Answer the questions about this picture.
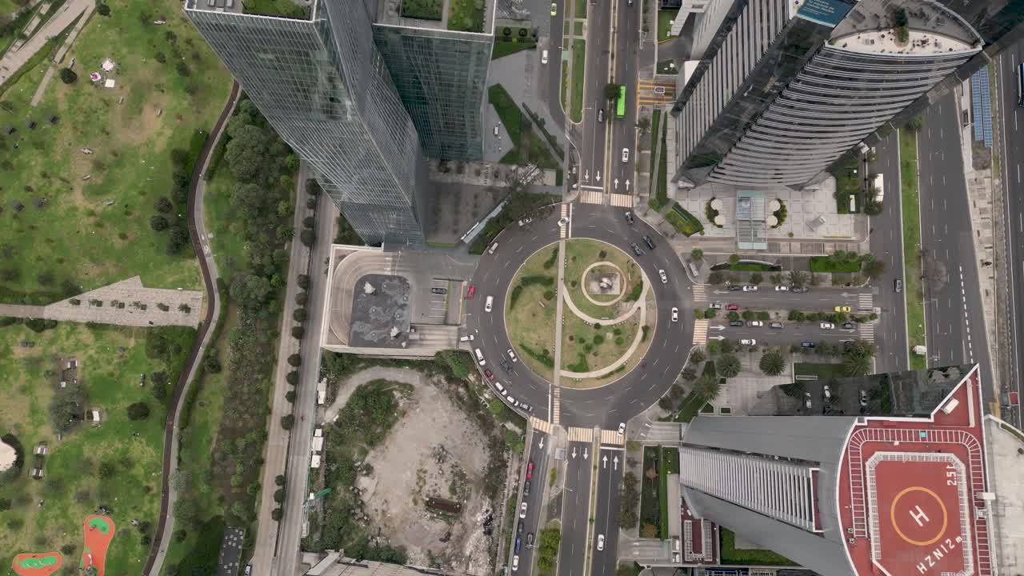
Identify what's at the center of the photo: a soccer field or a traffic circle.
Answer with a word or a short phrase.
traffic circle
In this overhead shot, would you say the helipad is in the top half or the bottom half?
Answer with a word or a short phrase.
bottom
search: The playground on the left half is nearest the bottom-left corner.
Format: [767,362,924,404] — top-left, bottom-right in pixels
[12,552,62,576]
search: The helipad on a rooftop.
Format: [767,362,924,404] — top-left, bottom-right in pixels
[865,453,975,576]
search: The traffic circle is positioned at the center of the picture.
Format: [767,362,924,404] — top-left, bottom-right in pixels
[459,192,708,446]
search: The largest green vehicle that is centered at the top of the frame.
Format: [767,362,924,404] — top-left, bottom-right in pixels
[614,87,627,119]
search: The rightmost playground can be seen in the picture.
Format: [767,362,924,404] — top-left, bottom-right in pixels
[79,514,115,576]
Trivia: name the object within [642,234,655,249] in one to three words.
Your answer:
vehicle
